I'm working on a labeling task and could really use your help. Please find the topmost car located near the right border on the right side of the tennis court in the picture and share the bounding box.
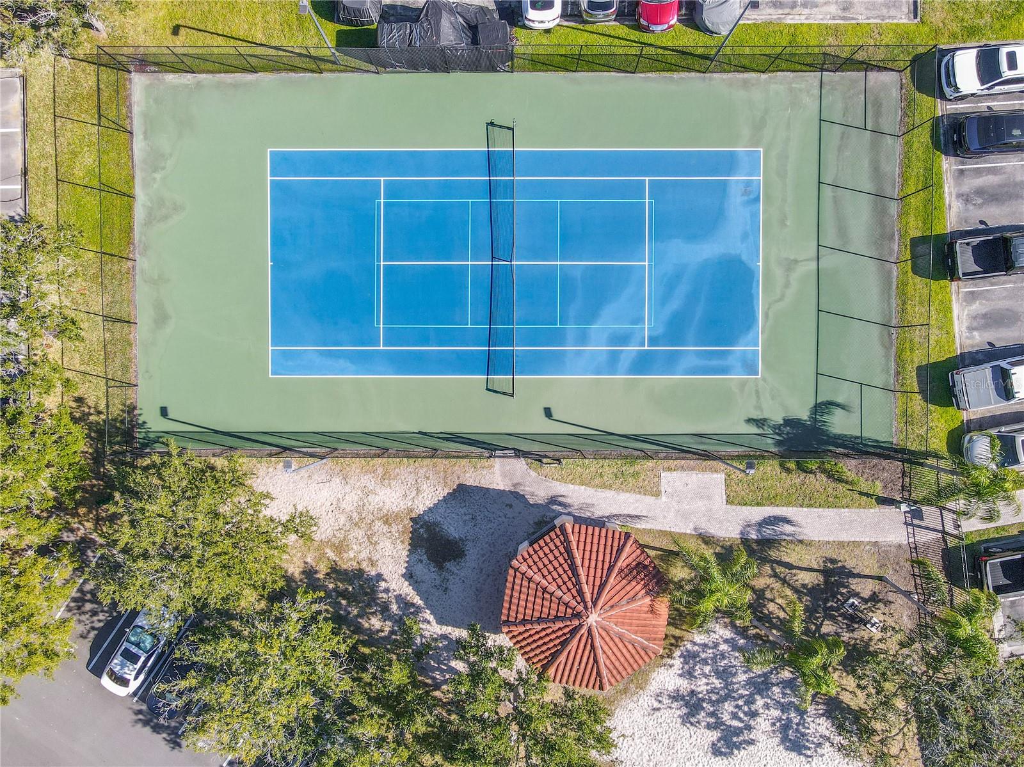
[939,41,1024,97]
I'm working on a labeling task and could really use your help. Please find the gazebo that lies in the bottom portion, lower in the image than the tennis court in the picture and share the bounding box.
[499,514,672,693]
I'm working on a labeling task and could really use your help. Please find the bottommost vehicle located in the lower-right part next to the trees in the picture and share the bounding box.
[973,544,1024,598]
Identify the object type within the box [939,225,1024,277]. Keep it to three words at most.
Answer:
truck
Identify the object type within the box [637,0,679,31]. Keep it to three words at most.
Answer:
car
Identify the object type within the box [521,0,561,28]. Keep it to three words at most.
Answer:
car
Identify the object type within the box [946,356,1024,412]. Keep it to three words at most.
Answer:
truck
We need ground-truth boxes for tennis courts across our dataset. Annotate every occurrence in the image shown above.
[130,69,903,455]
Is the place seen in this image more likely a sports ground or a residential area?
sports ground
